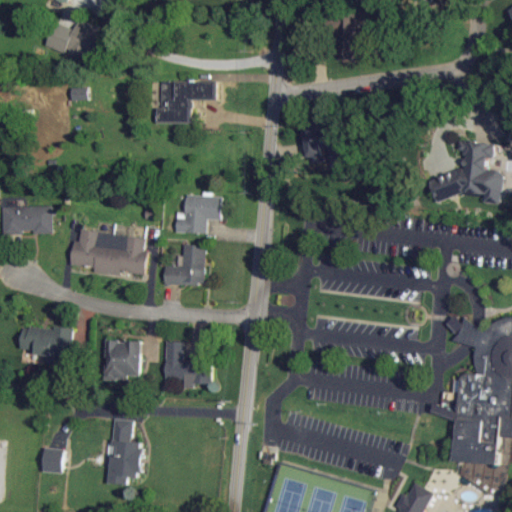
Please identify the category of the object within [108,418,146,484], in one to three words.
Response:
house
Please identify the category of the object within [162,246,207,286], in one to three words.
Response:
house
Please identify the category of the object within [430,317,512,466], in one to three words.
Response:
building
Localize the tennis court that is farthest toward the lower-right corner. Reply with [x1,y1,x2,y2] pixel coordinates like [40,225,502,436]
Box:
[336,482,376,512]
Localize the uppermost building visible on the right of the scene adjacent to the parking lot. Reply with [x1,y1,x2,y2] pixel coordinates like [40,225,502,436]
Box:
[429,142,504,204]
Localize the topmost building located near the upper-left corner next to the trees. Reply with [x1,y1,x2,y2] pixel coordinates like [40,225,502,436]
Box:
[46,20,82,53]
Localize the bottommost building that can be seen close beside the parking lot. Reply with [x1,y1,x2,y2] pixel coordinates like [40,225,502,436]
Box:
[394,484,434,512]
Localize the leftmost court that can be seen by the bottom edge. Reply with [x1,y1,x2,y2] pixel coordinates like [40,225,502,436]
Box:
[268,465,314,512]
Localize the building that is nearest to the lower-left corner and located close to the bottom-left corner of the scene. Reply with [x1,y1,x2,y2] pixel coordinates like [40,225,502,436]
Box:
[40,449,64,473]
